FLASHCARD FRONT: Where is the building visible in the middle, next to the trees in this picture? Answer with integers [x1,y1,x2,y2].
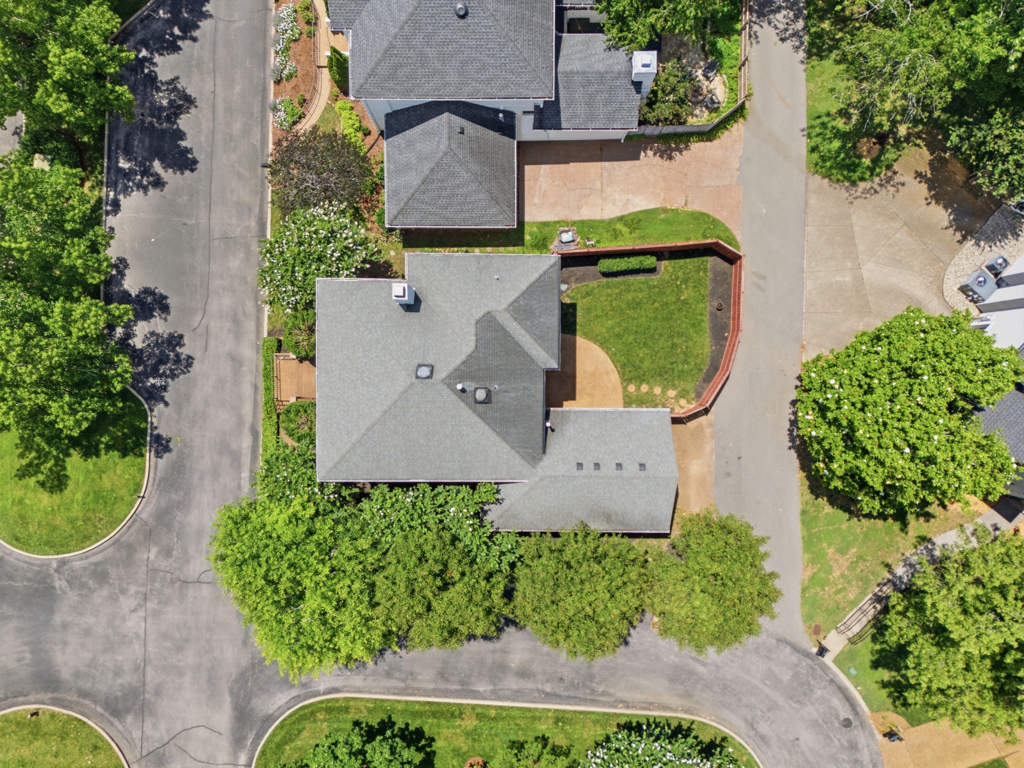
[314,252,677,534]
